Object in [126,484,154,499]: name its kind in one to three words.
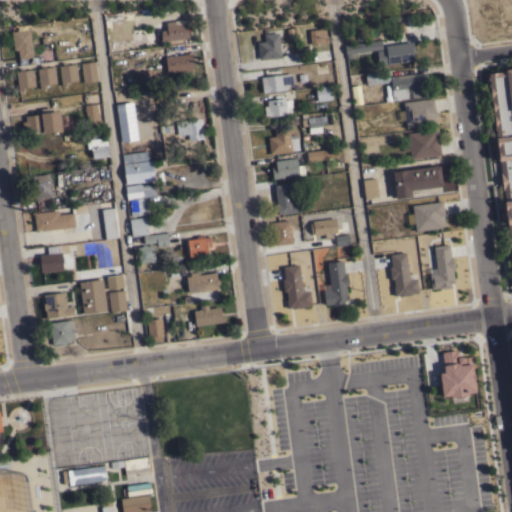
building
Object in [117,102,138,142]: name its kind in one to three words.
shed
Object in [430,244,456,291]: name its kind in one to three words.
house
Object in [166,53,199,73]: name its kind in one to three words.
house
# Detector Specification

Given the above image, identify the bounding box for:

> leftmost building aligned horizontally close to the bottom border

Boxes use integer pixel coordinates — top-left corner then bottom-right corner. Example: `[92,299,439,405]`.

[68,467,107,488]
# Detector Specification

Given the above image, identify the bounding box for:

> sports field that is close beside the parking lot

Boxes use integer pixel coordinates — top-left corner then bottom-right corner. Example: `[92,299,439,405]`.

[156,372,256,461]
